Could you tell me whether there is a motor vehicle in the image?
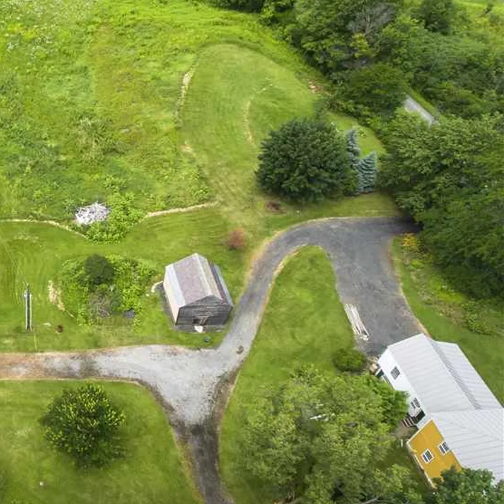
No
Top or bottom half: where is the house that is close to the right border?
bottom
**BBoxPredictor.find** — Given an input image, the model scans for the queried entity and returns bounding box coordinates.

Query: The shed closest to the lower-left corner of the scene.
[163,253,236,333]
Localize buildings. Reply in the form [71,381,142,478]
[376,331,504,499]
[163,253,236,333]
